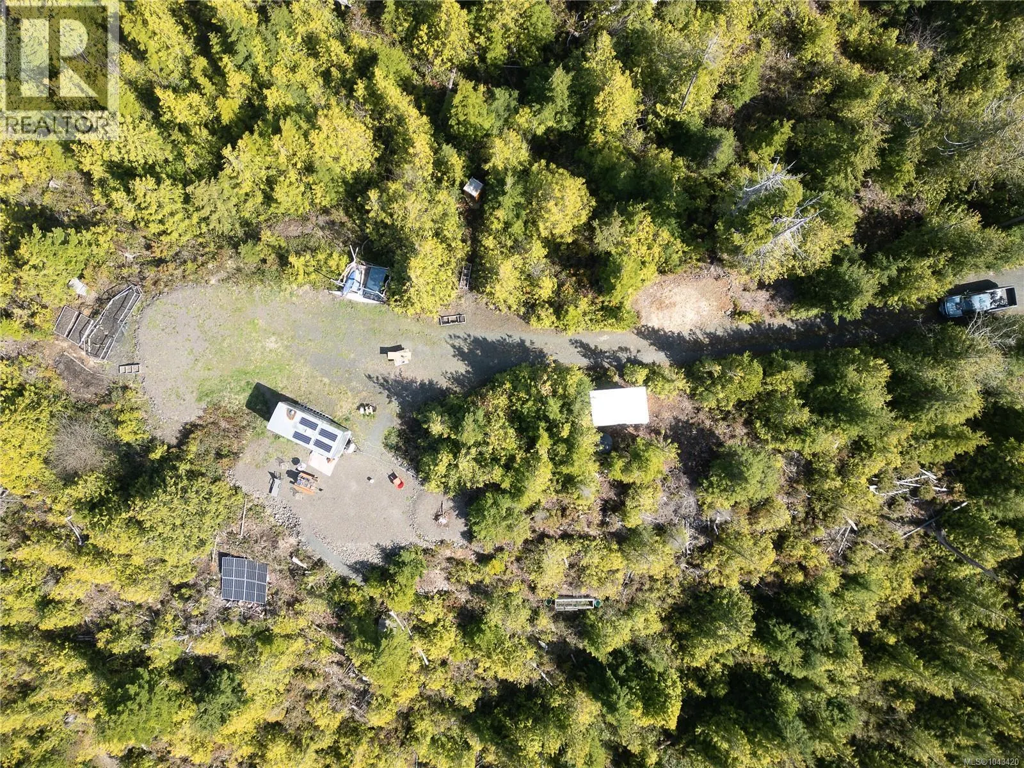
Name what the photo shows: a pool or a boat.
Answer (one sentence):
Of the two, only a boat appears.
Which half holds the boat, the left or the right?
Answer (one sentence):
You can find the boat on the left side of the picture.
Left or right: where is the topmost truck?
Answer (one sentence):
The topmost truck sits on the right side.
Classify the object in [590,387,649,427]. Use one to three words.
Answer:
shed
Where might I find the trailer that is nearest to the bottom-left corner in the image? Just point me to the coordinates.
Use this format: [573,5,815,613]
[269,401,365,457]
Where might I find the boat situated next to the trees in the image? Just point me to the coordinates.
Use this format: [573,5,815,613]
[325,267,387,306]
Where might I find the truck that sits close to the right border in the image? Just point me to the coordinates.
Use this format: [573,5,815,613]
[935,283,1019,320]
